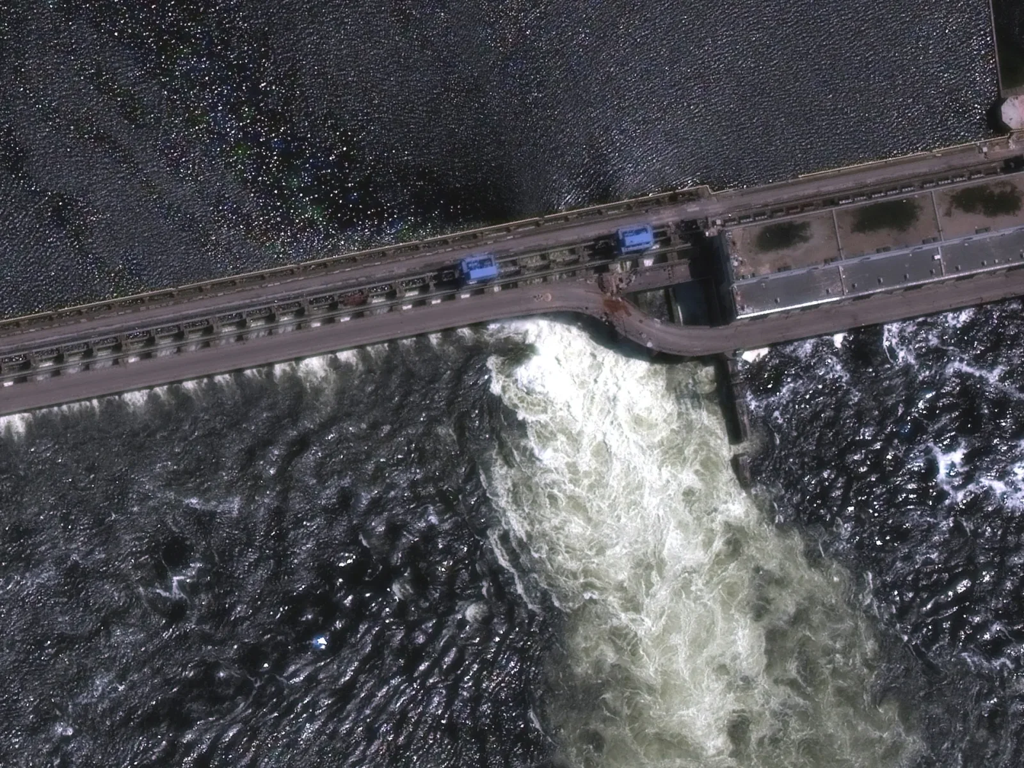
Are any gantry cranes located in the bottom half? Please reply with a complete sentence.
No, in the bottom half there is no gantry crane.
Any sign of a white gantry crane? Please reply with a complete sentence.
No, there isn't any white gantry crane down there.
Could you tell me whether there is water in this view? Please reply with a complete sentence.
Yes, there is water in the image.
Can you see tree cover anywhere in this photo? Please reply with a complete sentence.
No, the scene doesn't show any tree cover.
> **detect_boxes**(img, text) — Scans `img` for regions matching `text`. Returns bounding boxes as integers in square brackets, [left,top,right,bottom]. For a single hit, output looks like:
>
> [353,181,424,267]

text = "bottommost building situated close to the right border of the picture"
[711,171,1024,320]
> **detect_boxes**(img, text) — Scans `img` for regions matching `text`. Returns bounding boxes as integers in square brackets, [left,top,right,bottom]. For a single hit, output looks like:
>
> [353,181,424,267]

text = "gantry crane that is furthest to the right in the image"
[611,223,654,263]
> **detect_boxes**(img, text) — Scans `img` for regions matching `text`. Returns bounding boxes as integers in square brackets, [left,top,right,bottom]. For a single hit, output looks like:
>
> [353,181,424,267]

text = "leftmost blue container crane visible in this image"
[453,251,496,290]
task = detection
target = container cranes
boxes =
[453,251,496,290]
[611,223,654,263]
